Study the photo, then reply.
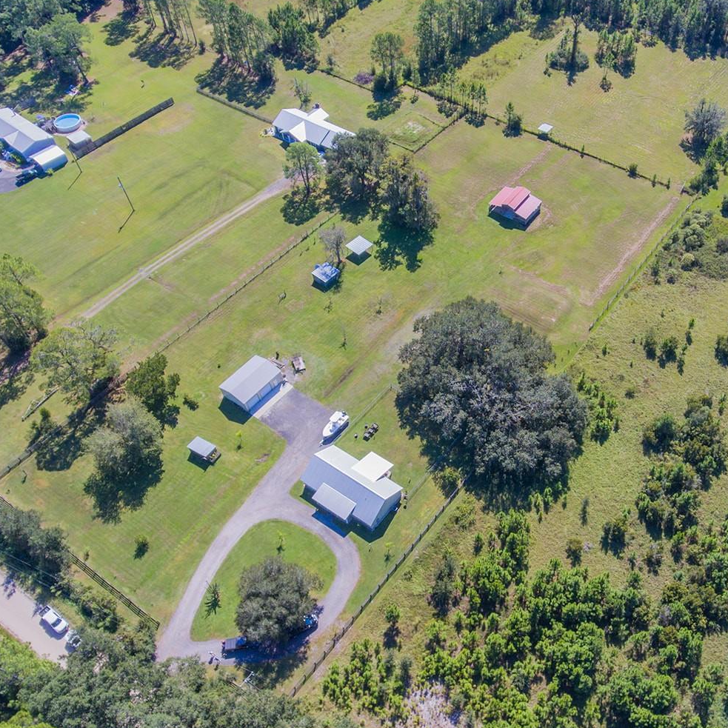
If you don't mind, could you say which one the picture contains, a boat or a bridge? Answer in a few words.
boat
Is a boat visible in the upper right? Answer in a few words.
No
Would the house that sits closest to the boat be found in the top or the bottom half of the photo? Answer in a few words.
bottom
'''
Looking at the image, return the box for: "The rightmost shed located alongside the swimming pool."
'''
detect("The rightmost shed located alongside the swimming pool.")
[59,128,95,156]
